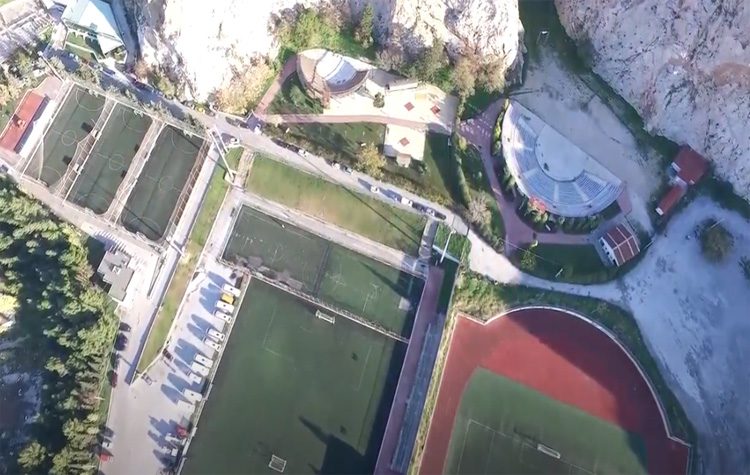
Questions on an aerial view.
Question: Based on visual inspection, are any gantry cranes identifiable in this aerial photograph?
No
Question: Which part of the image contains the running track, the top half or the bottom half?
bottom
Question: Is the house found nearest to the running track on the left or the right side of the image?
right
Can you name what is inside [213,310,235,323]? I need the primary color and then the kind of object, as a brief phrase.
white vehicle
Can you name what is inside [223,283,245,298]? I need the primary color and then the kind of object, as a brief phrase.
white vehicle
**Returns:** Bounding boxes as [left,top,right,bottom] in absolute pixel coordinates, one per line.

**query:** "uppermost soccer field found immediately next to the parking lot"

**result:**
[222,206,420,340]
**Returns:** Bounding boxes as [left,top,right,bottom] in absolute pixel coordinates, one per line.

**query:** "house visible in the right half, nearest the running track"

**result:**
[605,225,645,269]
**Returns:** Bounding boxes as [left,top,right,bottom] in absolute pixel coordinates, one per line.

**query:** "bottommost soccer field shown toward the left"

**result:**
[179,277,406,475]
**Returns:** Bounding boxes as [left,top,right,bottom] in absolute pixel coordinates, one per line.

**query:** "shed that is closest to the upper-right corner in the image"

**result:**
[669,144,710,187]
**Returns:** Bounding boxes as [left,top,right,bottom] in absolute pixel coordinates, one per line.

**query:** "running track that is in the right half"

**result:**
[420,307,689,475]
